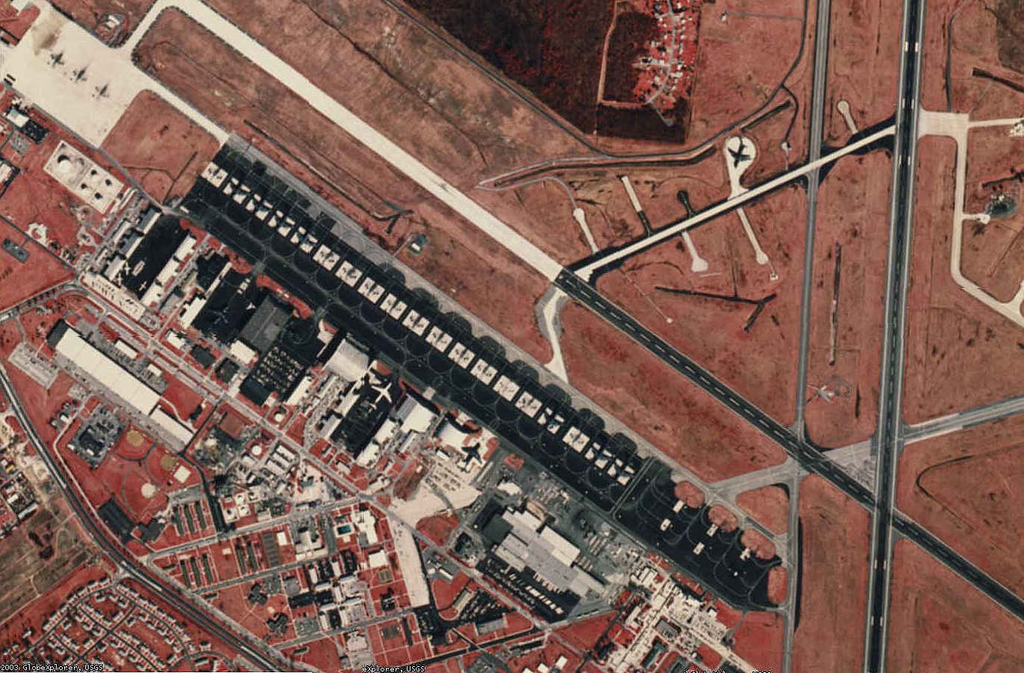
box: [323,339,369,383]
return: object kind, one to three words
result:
hangar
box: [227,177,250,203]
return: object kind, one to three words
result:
airplane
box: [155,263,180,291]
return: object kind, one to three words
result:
building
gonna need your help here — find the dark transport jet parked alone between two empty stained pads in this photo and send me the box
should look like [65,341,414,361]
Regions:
[544,408,567,434]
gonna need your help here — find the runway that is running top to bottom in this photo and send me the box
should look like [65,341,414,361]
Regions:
[863,0,926,673]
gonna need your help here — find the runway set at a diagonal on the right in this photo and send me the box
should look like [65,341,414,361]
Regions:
[554,268,1024,621]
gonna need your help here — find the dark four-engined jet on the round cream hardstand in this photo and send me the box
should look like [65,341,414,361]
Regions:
[729,142,751,168]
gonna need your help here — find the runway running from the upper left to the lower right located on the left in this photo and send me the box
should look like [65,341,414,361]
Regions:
[176,0,563,281]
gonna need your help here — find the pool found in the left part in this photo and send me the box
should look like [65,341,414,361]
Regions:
[335,525,354,537]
